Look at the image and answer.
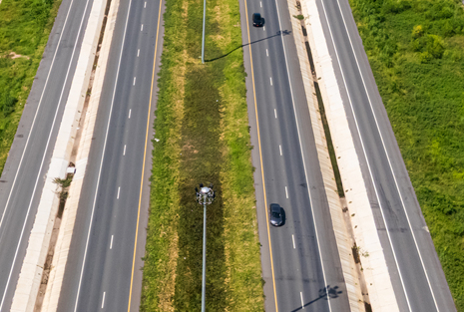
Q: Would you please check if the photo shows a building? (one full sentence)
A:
No, the picture doesn't show any building.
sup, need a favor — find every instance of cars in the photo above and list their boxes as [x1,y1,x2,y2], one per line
[271,201,286,223]
[254,9,264,23]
